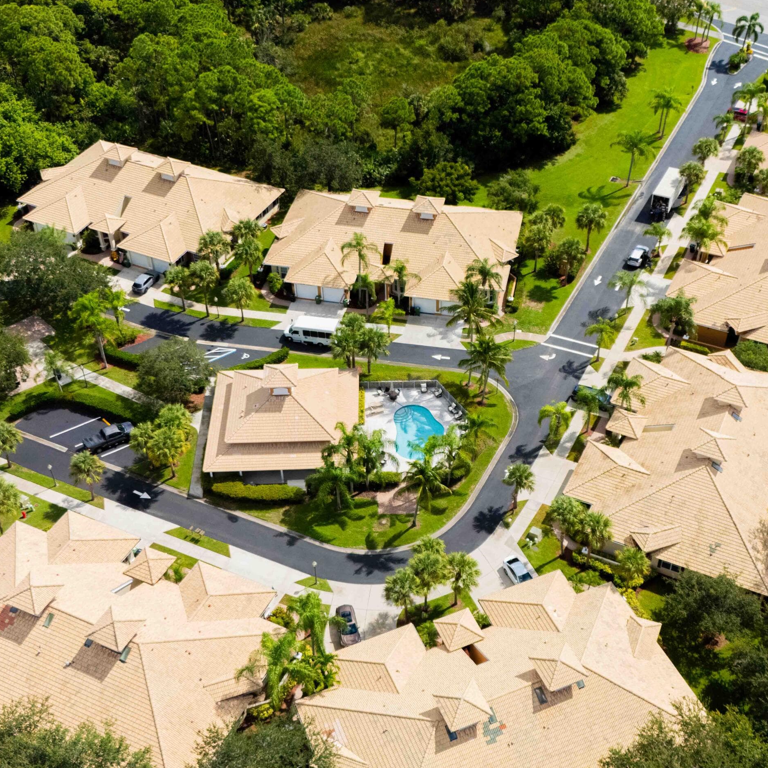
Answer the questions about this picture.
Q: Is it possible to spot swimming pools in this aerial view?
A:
Yes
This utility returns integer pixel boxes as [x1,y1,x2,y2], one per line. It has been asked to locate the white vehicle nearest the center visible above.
[284,315,339,344]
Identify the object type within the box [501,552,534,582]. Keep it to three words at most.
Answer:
car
